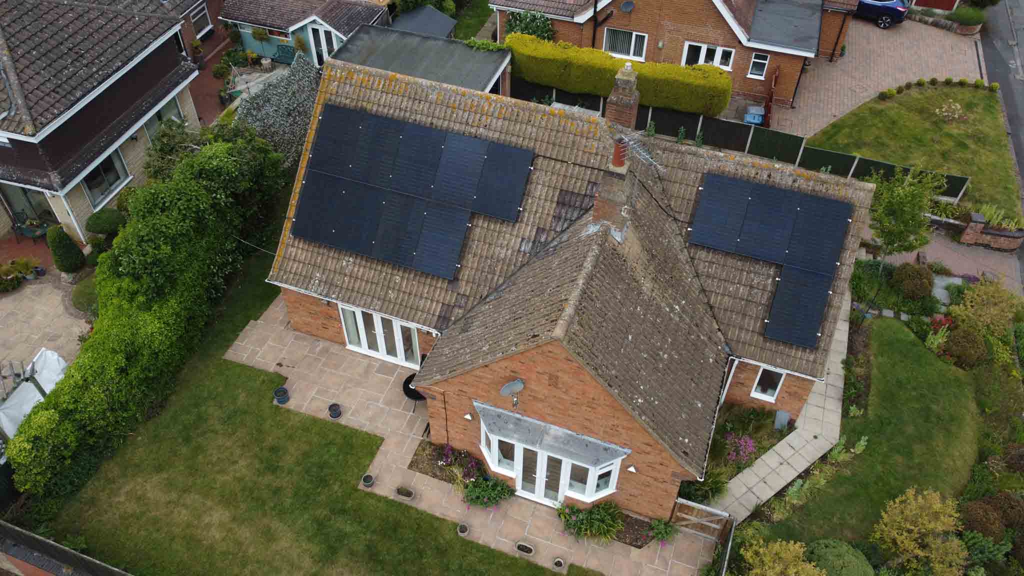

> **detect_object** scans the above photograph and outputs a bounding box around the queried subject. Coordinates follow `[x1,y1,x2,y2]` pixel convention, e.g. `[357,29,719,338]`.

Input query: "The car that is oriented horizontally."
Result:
[848,0,914,27]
